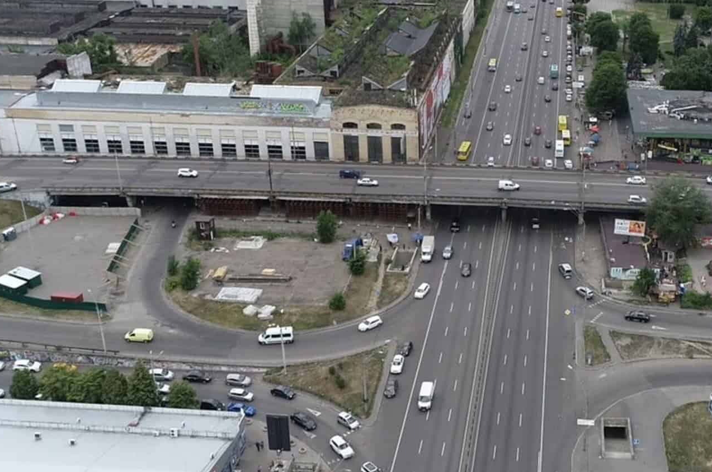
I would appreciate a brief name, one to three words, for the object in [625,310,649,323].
vehicle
